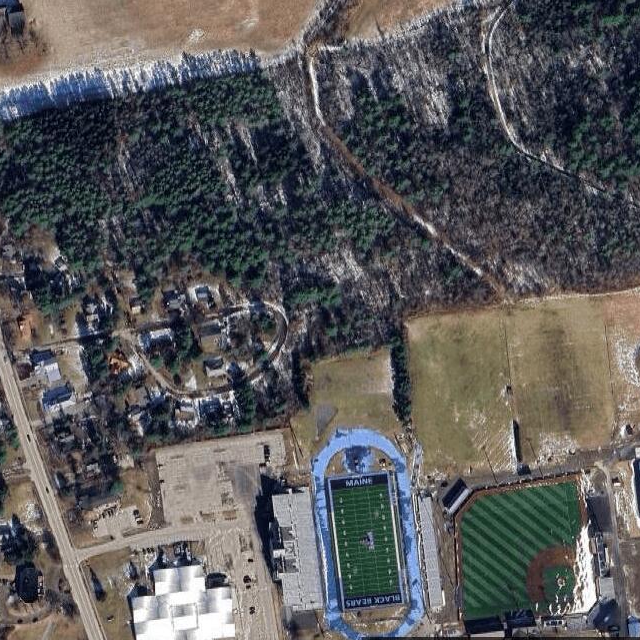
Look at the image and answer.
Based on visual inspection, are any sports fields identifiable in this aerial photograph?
Yes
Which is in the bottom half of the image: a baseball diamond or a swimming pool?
baseball diamond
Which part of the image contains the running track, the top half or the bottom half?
bottom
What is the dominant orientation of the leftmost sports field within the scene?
vertically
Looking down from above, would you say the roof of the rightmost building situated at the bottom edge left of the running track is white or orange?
white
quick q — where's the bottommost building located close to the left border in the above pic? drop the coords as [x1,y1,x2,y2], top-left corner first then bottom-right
[15,562,42,605]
